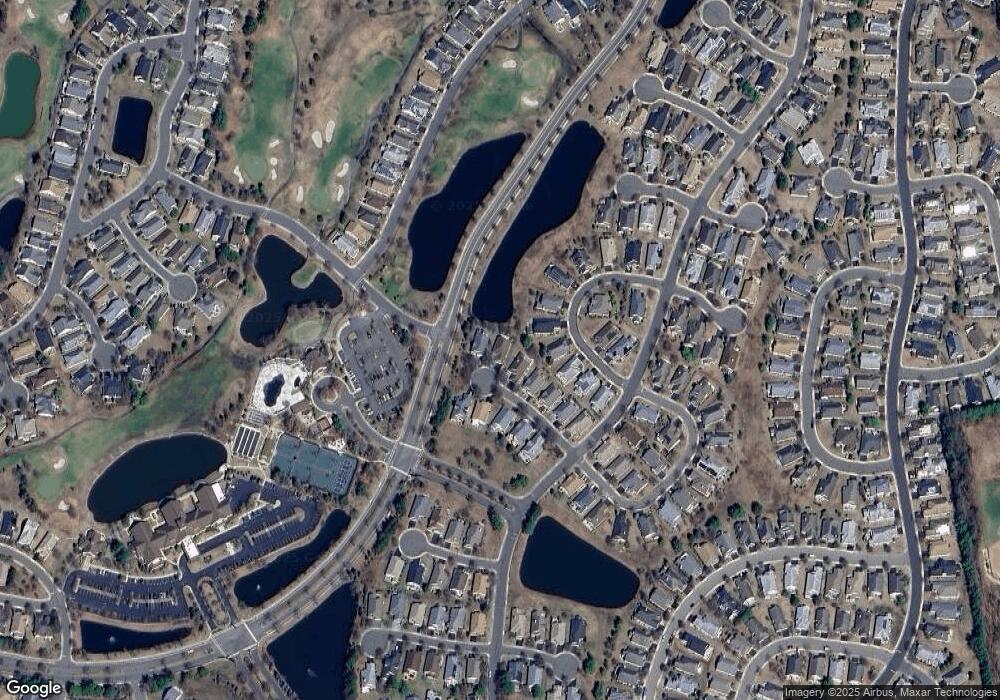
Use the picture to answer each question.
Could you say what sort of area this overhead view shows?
residential area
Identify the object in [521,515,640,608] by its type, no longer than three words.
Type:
pond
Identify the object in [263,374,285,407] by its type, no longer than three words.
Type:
swimming pool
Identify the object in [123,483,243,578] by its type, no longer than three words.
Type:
building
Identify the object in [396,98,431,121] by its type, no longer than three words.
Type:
house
